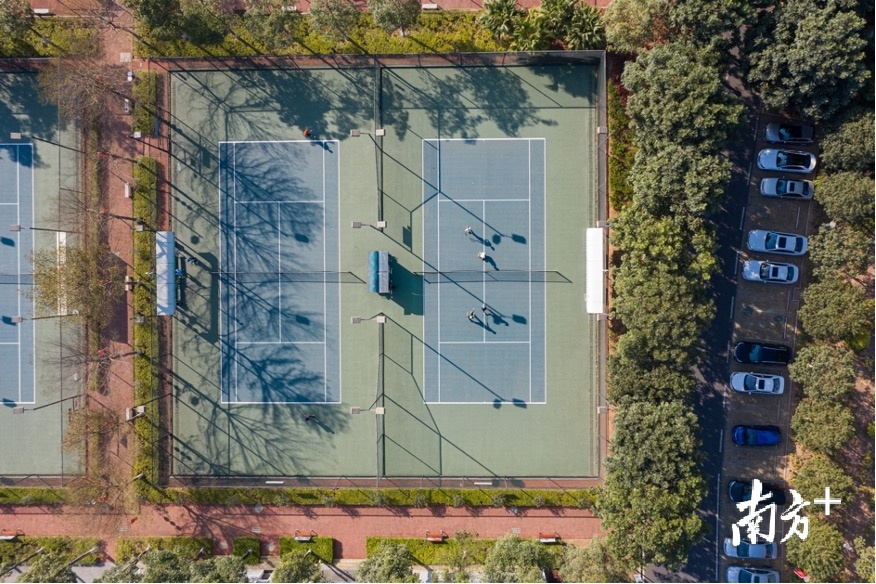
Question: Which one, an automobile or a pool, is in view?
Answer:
automobile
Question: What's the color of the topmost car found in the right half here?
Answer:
black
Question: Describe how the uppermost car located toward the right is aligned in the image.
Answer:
from left to right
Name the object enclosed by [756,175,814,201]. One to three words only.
car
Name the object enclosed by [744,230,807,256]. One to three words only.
car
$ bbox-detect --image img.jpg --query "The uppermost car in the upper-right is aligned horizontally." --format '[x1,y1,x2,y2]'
[760,120,816,146]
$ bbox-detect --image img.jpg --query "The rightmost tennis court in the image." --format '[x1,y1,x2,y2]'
[381,62,597,478]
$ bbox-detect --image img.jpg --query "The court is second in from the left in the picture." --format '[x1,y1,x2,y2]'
[169,66,383,476]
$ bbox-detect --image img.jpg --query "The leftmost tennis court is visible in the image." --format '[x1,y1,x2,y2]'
[0,70,83,474]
